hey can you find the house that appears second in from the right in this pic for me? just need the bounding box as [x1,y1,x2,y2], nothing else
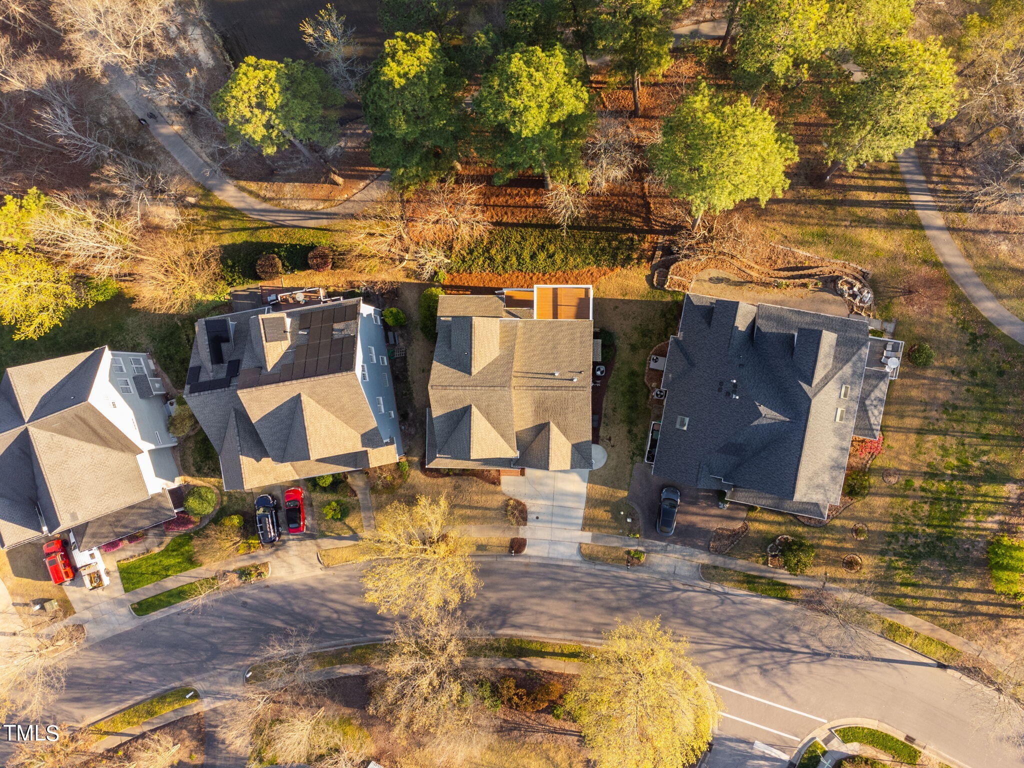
[425,284,597,477]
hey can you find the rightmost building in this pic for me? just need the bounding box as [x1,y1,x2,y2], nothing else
[650,291,906,520]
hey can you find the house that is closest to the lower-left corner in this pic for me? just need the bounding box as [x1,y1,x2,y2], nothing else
[0,345,188,552]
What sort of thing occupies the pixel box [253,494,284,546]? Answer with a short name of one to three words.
car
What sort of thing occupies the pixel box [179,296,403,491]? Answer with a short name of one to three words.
house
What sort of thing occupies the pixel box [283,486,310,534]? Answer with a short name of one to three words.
car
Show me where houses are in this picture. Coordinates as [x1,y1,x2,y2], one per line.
[650,291,906,520]
[425,284,597,477]
[179,296,403,491]
[0,345,188,552]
